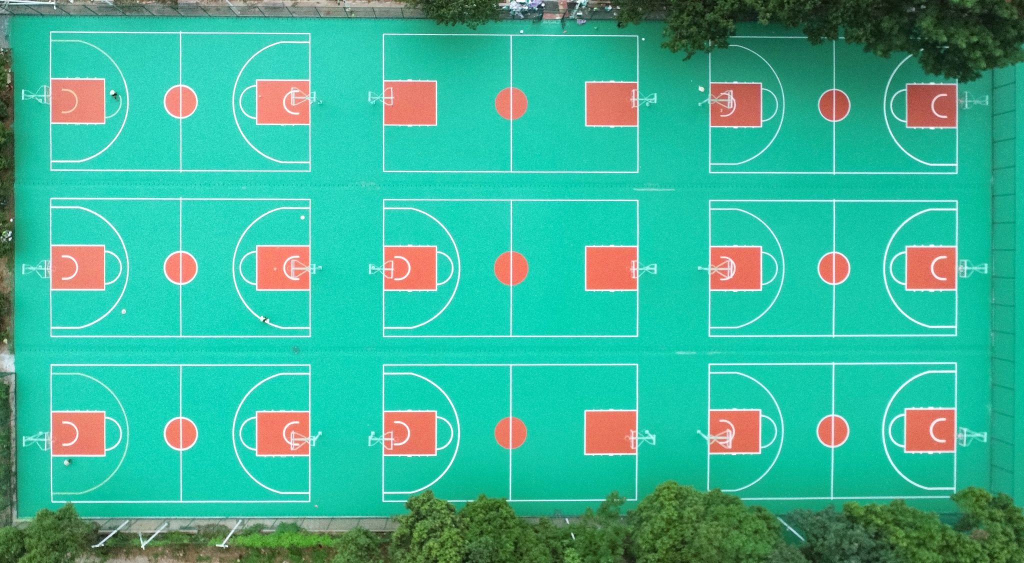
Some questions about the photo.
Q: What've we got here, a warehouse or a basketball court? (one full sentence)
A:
I can see a basketball court in this picture.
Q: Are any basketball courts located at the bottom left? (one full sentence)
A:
Yes, a basketball court can be seen at the bottom left.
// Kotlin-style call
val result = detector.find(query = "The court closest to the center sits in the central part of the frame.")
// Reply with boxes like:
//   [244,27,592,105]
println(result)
[383,199,638,337]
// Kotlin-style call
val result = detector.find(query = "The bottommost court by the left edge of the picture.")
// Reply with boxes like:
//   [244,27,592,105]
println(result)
[51,364,310,503]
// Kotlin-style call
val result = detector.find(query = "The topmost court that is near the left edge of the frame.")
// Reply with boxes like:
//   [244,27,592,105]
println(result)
[50,32,311,172]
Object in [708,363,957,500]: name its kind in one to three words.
basketball court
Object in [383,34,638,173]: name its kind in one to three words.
basketball court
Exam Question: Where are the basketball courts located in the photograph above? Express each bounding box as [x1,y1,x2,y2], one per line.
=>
[51,364,310,503]
[709,36,958,174]
[383,34,638,173]
[708,363,957,500]
[383,364,638,502]
[50,198,311,338]
[50,32,311,172]
[709,200,958,337]
[383,199,638,337]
